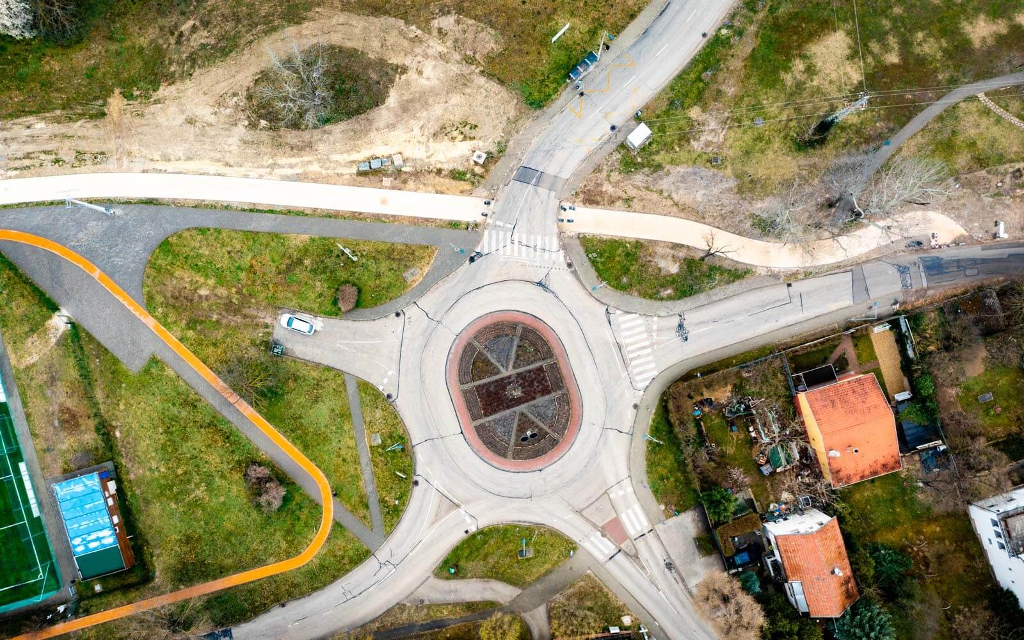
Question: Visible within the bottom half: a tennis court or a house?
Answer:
house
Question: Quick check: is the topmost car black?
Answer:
No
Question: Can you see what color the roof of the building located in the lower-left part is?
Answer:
blue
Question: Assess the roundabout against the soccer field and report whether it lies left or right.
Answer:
to the right of it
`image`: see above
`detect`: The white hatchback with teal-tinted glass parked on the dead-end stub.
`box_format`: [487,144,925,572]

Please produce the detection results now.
[279,314,315,334]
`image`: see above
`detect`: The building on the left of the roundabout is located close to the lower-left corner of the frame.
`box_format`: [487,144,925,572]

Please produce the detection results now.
[53,470,137,582]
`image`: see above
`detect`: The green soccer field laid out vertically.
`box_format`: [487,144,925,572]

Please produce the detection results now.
[0,402,56,609]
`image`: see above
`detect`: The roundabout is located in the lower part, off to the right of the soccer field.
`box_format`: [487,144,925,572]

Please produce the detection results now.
[263,185,819,635]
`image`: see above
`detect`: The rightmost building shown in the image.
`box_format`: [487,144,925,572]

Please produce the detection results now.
[964,484,1024,633]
